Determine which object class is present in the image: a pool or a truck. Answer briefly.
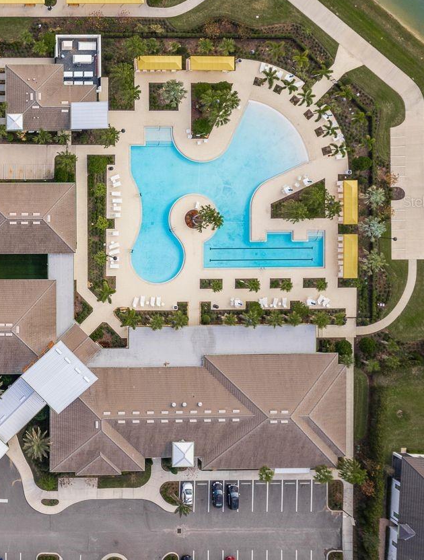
pool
